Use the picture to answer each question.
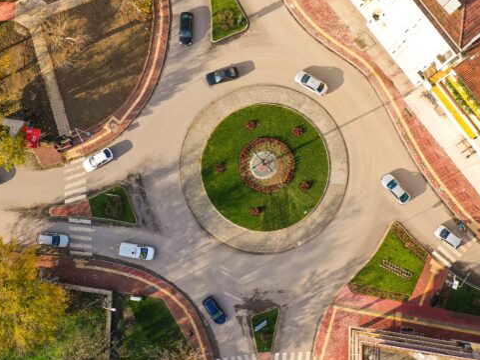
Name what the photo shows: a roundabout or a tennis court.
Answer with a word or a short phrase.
roundabout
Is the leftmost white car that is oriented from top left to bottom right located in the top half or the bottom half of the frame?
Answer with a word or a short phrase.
top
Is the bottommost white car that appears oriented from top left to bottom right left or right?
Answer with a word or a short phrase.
right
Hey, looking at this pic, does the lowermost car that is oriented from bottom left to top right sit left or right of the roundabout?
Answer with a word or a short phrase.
left of it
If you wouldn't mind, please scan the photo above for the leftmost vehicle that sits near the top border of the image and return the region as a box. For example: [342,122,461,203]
[177,13,194,45]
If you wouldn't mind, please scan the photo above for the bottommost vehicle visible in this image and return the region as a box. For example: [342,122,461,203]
[199,292,229,326]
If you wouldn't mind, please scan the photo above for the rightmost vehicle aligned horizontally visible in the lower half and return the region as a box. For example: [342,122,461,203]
[117,242,156,261]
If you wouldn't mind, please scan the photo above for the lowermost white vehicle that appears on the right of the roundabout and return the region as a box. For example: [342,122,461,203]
[433,224,464,251]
